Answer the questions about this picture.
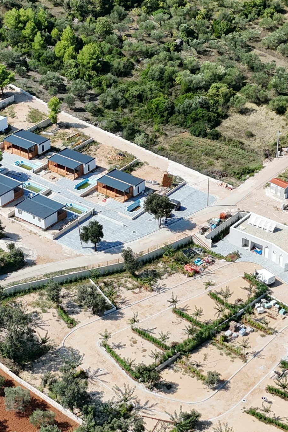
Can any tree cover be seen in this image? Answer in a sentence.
Yes, tree cover can be seen from above here.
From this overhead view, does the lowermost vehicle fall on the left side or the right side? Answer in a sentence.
It is on the right.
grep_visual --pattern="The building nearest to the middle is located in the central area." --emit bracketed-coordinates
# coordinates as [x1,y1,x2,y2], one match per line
[96,167,146,202]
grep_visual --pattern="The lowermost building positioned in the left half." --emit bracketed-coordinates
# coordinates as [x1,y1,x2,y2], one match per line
[15,194,67,230]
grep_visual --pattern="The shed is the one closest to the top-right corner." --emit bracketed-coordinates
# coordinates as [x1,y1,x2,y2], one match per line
[265,175,288,201]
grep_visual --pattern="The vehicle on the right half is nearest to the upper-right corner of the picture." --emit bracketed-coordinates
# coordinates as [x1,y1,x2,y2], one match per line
[170,197,185,210]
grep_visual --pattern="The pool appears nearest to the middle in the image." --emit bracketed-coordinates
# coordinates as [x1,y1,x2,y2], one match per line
[122,198,144,214]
